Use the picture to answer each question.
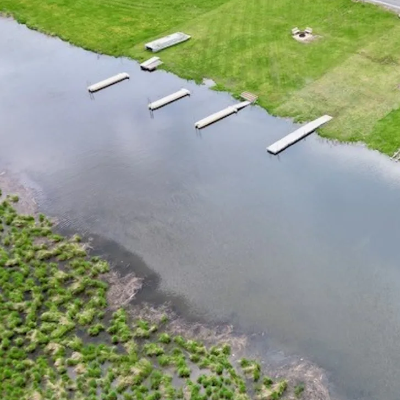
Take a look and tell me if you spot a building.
No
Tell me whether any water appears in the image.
Yes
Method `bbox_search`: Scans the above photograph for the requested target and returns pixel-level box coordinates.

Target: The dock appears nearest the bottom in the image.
[266,116,333,157]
